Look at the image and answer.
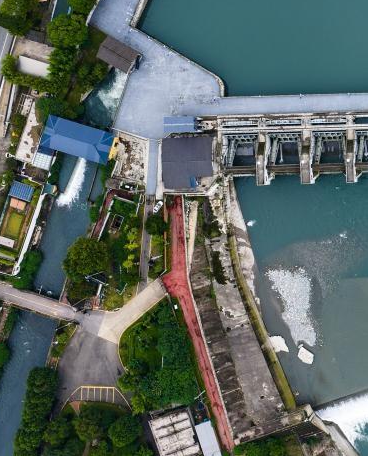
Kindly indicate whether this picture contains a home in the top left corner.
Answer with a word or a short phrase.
Yes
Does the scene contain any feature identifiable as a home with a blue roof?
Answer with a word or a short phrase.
Yes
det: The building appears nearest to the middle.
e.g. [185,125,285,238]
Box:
[161,136,215,189]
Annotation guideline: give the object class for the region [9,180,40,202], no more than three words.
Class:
house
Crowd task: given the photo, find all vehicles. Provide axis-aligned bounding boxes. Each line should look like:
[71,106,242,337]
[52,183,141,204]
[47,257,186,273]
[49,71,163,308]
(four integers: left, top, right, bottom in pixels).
[122,183,135,190]
[152,200,164,212]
